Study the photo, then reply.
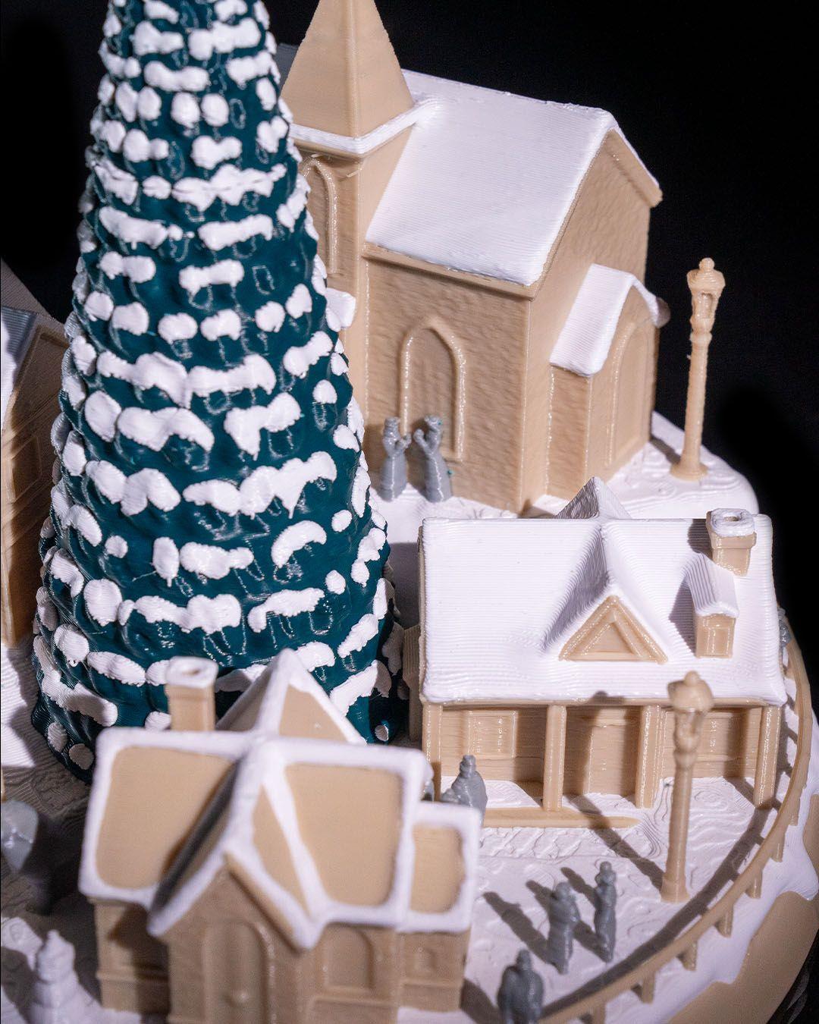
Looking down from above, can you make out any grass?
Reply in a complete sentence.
No, the scene doesn't show any grass.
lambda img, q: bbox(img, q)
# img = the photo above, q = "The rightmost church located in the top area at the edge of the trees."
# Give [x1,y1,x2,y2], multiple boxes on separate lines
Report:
[276,0,669,510]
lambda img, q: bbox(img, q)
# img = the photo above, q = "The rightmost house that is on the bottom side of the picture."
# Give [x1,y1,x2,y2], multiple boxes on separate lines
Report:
[400,479,790,833]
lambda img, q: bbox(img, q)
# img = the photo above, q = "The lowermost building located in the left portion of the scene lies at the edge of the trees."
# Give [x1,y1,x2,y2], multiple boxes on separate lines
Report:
[76,644,489,1024]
